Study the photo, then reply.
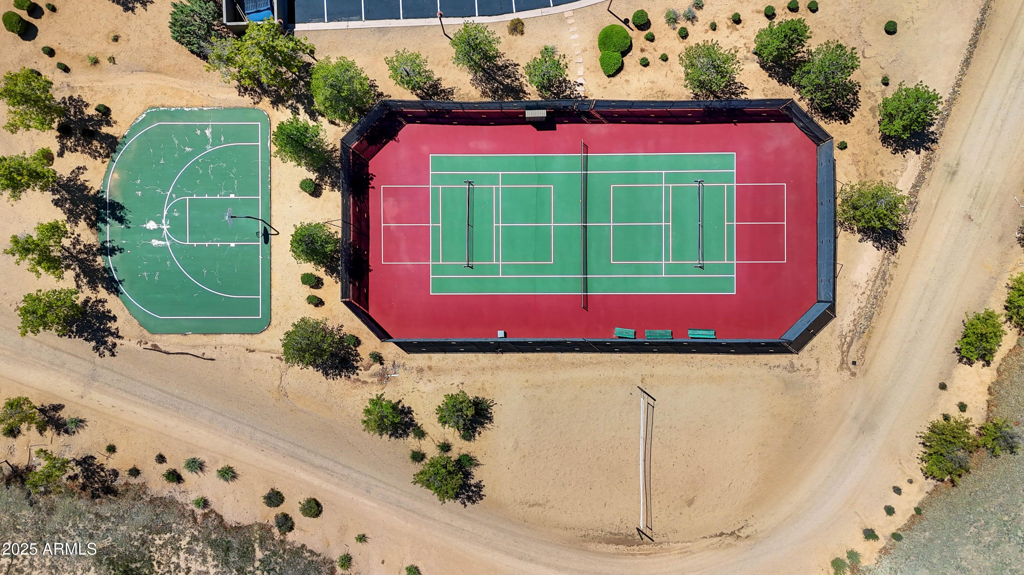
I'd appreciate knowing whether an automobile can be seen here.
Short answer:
No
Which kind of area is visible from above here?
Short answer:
sports ground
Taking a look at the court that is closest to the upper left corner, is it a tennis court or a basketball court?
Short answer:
basketball court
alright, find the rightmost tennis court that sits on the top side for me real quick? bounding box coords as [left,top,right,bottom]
[349,108,817,340]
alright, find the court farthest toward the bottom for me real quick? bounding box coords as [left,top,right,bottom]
[483,367,828,528]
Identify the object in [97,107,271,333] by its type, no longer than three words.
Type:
basketball court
